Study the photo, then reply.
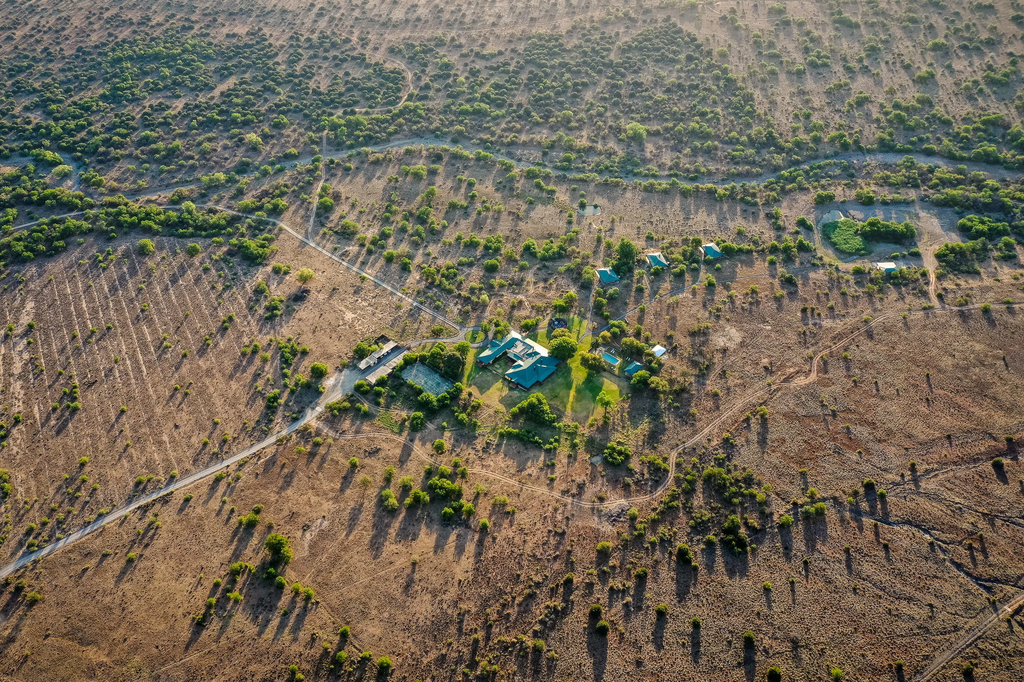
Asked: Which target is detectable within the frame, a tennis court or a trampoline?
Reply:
tennis court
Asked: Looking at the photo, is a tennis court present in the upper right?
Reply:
No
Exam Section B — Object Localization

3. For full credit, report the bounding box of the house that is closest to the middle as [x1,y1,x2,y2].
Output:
[476,330,561,392]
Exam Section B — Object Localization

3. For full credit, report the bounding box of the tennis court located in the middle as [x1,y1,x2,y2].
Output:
[413,362,453,394]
